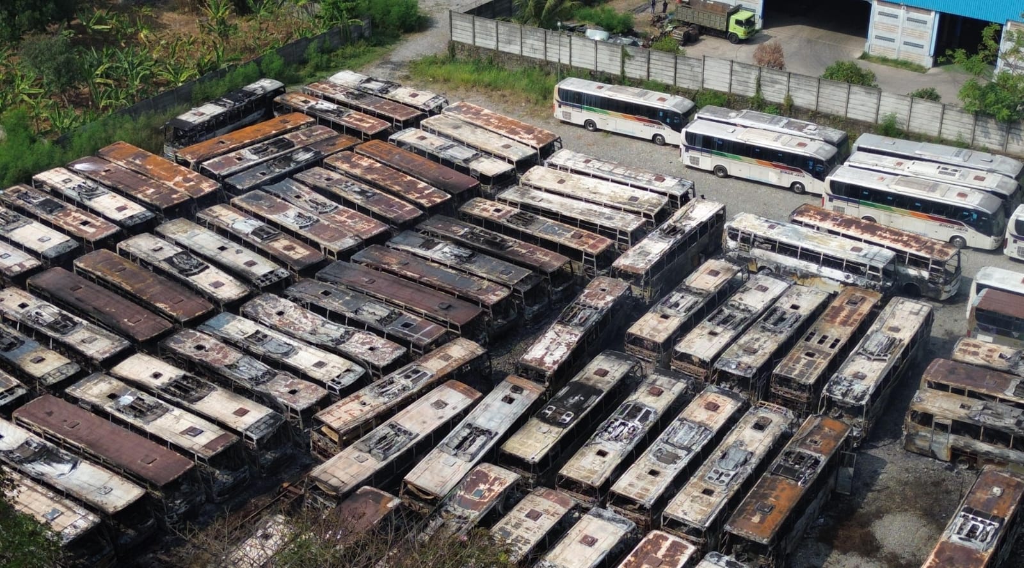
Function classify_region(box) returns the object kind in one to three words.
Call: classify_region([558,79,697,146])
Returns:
bus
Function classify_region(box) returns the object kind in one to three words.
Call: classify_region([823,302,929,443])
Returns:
bus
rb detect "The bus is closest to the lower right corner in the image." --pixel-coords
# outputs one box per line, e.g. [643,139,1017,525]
[928,467,1024,568]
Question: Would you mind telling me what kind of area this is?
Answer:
parking lot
